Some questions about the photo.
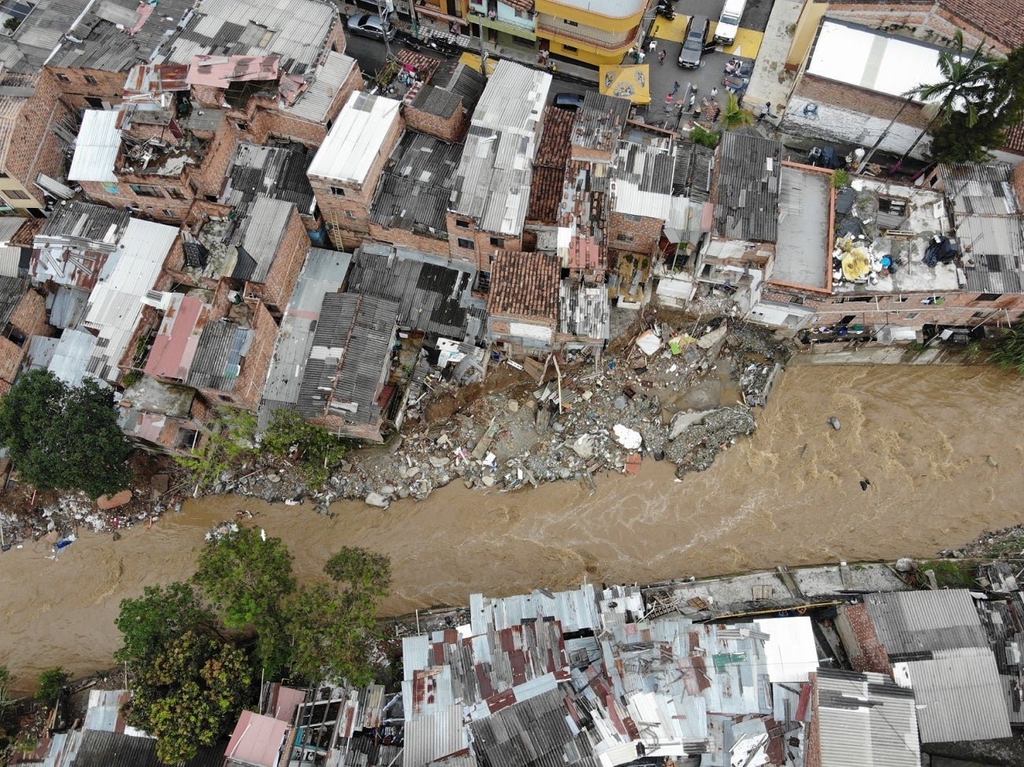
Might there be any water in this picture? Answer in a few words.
Yes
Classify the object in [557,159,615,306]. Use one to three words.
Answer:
house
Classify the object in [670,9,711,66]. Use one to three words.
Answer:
car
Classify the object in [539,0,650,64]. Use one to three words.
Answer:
building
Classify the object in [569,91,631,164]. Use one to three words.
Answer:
house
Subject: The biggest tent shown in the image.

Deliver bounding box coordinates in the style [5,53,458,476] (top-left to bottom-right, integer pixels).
[596,64,650,121]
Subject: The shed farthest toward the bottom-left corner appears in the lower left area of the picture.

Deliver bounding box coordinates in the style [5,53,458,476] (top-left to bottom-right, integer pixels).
[8,732,84,767]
